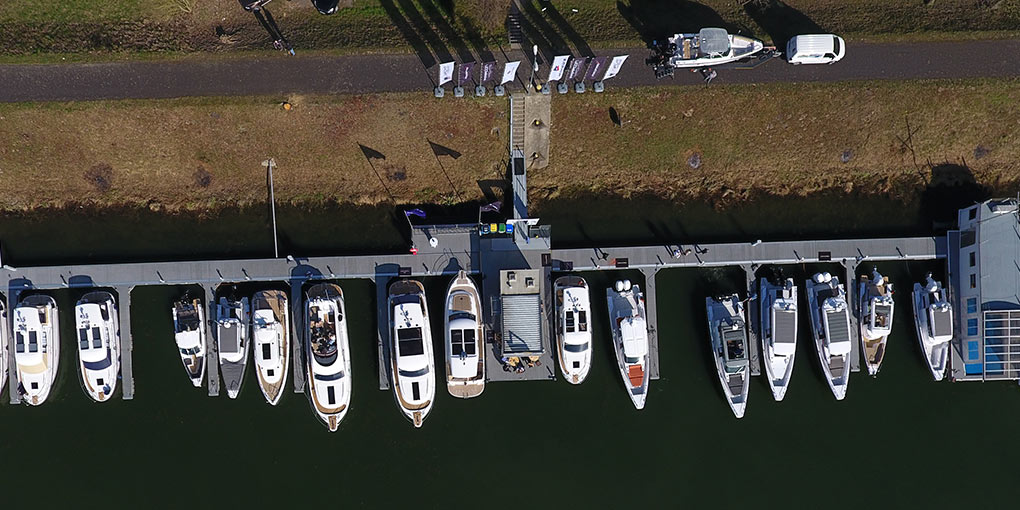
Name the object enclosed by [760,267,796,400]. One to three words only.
boat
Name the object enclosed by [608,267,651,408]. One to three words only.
boat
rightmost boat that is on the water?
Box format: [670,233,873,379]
[944,194,1020,383]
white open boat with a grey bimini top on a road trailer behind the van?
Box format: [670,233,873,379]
[655,24,764,64]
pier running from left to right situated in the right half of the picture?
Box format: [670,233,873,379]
[552,236,945,381]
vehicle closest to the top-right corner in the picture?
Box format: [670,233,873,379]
[783,33,845,66]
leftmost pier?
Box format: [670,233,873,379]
[0,251,481,405]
